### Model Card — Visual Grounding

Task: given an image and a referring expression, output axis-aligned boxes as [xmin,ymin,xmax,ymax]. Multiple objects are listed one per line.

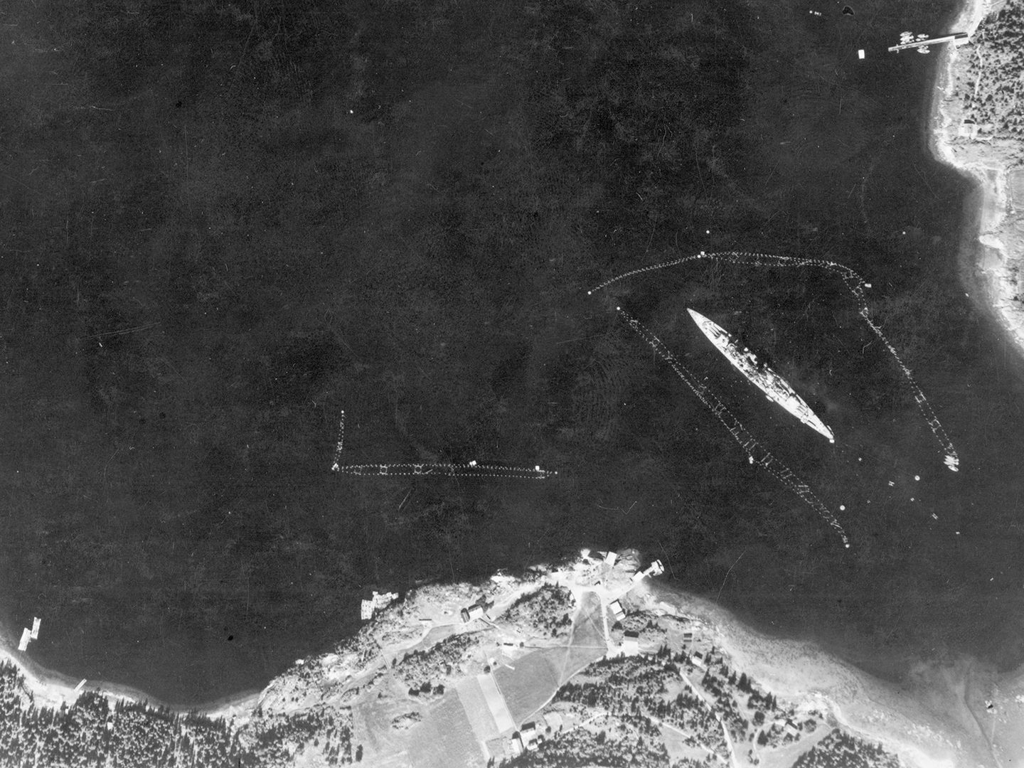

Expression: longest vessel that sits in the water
[687,308,832,439]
